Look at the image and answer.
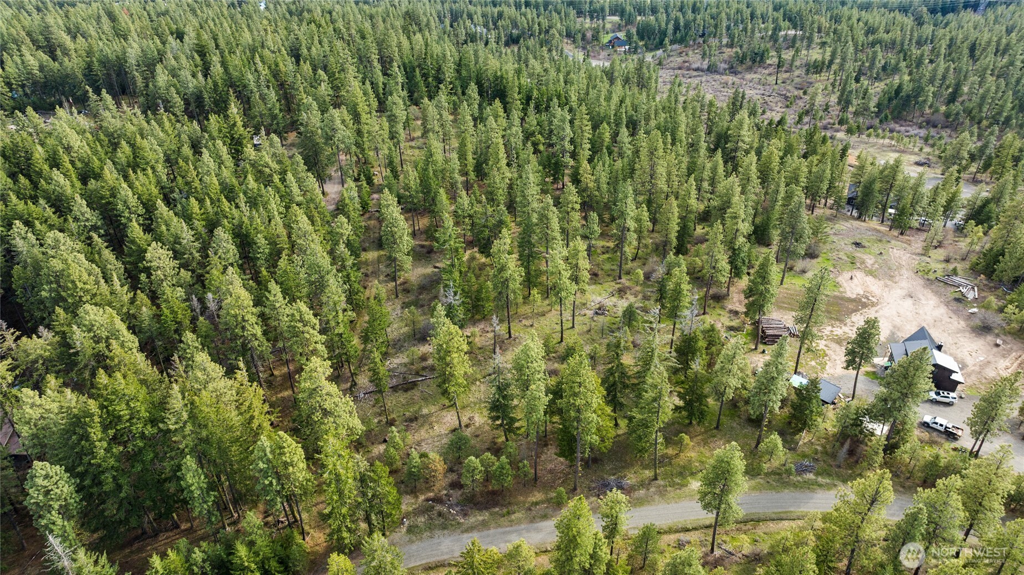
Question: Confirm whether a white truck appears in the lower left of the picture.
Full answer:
No, no white truck is visible in the lower left of the picture.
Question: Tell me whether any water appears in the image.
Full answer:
No, water can't be seen anywhere here.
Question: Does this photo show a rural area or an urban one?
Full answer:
From above, the setting appears rural.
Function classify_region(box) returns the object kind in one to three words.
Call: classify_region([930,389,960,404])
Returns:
car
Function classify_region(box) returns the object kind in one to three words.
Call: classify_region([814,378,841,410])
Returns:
shed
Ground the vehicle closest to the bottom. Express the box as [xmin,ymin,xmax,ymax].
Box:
[921,413,964,437]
